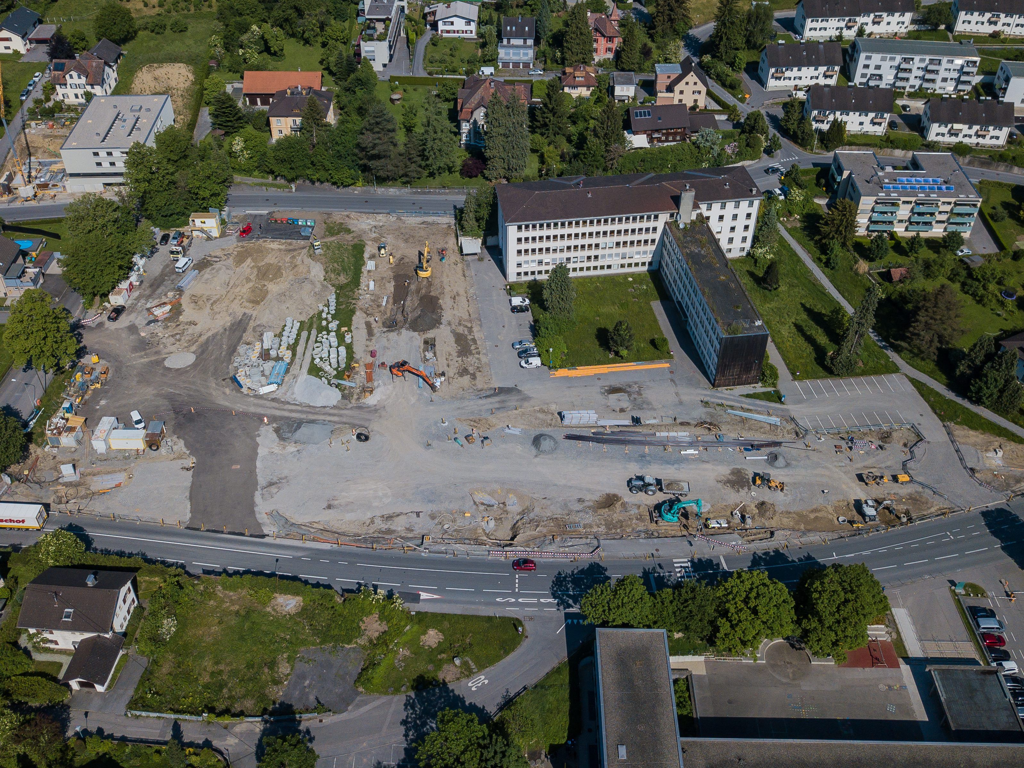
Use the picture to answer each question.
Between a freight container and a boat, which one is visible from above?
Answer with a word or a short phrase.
freight container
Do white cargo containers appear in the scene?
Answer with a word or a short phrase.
Yes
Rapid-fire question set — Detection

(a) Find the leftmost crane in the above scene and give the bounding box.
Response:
[0,58,36,190]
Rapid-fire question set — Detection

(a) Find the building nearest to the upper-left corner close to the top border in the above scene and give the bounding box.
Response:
[0,9,55,56]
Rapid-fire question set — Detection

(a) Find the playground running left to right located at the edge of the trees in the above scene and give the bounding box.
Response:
[684,661,930,738]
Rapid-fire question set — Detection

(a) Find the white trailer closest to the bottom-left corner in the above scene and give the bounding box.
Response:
[0,501,48,529]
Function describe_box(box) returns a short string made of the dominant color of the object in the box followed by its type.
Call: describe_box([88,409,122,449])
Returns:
white shipping container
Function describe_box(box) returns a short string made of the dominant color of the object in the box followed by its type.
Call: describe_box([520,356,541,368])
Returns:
white vehicle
